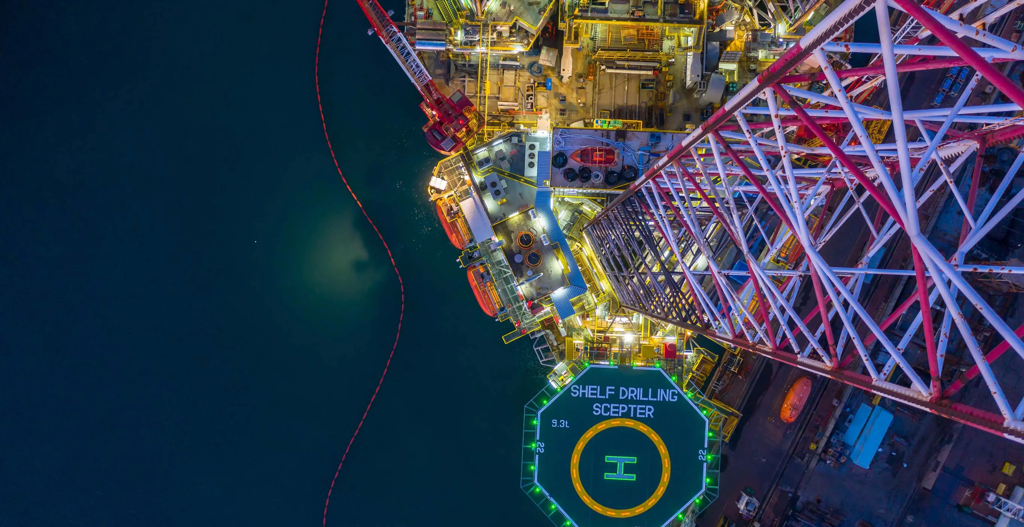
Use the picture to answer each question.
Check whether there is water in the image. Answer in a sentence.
Yes, water can be seen from above here.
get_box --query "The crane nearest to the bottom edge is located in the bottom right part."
[951,483,1024,525]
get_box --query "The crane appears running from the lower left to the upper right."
[778,0,946,173]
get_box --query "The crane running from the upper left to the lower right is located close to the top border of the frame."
[363,0,486,159]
